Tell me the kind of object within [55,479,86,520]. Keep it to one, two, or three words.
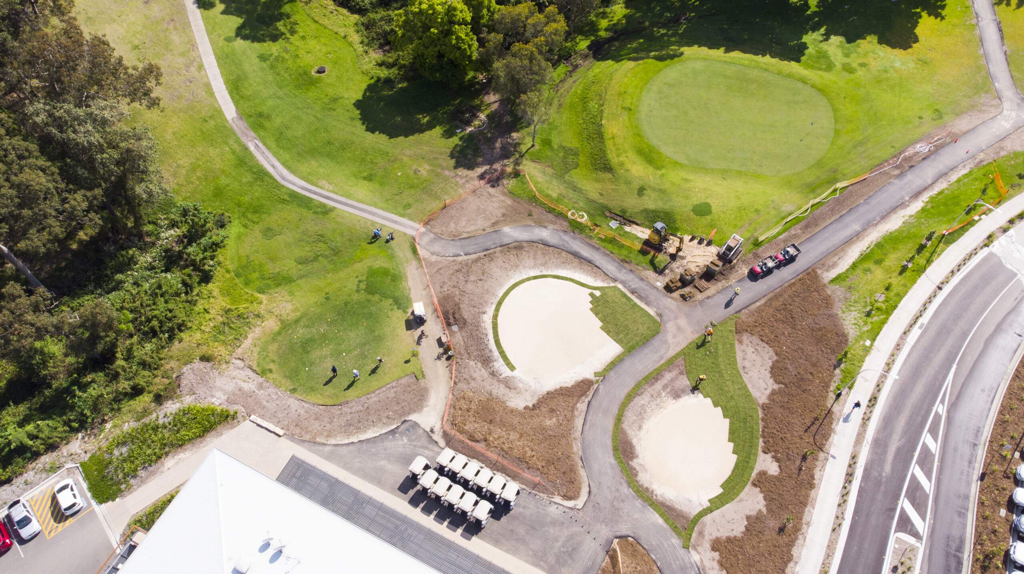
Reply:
car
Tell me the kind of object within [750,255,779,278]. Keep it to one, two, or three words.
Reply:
vehicle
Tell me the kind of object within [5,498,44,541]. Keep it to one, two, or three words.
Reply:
car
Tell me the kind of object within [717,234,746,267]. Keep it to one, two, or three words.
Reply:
work vehicle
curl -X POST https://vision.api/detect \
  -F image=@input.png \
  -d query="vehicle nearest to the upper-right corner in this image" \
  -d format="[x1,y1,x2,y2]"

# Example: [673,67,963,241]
[774,242,802,265]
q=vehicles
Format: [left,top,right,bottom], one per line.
[443,485,467,514]
[774,242,802,265]
[485,475,508,505]
[413,301,428,324]
[456,492,479,522]
[434,448,457,477]
[406,456,430,485]
[1009,492,1024,512]
[644,229,685,257]
[459,462,482,491]
[5,498,44,541]
[430,477,454,506]
[717,234,746,267]
[1006,543,1024,564]
[498,482,521,512]
[0,528,14,560]
[55,479,86,520]
[472,469,495,498]
[446,454,470,483]
[750,255,779,278]
[417,470,441,499]
[469,500,493,530]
